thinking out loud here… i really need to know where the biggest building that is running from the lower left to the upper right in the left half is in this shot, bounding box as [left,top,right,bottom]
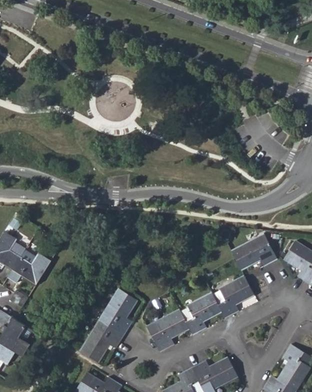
[80,288,138,364]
